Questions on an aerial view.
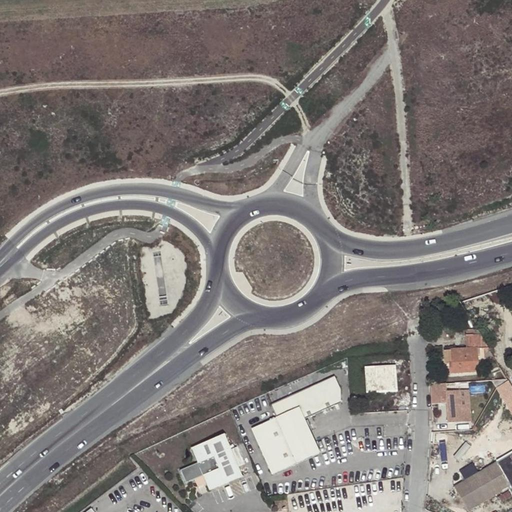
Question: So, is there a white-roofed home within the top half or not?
No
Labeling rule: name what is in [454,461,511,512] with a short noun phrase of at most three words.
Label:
barn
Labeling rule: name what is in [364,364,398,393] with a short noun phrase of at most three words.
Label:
building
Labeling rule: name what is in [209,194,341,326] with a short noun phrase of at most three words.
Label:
roundabout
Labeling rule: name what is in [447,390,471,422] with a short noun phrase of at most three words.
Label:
house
